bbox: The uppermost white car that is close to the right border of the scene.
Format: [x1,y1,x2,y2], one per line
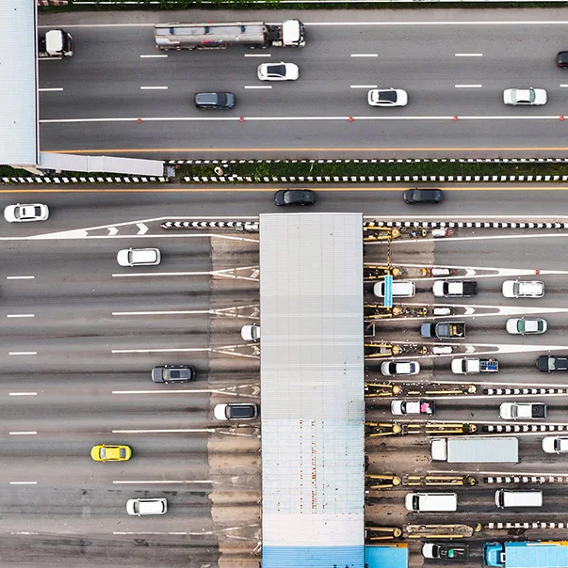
[502,86,547,107]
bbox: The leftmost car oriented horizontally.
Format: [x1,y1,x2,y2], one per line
[4,203,52,222]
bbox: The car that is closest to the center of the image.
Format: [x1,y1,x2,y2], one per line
[242,323,260,342]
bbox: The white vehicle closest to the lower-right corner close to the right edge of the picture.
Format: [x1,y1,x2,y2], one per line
[494,487,543,507]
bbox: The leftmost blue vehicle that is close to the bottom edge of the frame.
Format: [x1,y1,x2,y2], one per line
[364,543,408,568]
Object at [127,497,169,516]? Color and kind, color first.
white car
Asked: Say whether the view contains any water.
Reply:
No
